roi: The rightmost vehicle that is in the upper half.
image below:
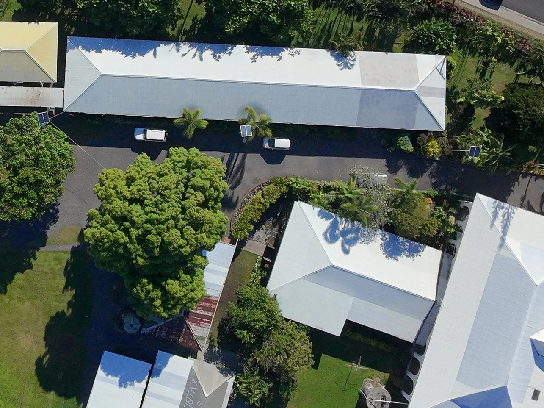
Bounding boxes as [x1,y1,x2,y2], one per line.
[263,138,290,151]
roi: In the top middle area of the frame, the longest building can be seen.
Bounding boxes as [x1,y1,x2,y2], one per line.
[63,35,447,132]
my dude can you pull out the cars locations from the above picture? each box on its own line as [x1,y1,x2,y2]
[134,127,167,143]
[263,138,290,151]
